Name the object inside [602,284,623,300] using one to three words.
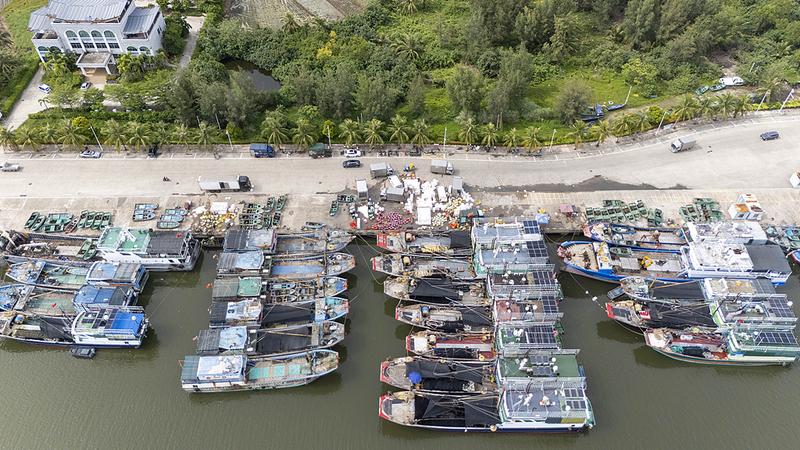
boat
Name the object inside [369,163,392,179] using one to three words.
vehicle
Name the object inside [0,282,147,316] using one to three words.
boat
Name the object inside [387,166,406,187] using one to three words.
vehicle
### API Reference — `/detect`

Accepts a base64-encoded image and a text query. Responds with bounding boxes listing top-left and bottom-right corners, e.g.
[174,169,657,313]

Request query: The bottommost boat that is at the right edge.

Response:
[643,320,800,370]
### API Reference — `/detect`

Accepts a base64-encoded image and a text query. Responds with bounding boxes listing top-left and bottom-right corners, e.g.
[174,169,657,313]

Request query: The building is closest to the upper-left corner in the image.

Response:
[26,0,175,77]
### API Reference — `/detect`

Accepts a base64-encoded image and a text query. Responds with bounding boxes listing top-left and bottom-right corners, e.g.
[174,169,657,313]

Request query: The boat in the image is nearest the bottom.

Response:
[379,377,608,436]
